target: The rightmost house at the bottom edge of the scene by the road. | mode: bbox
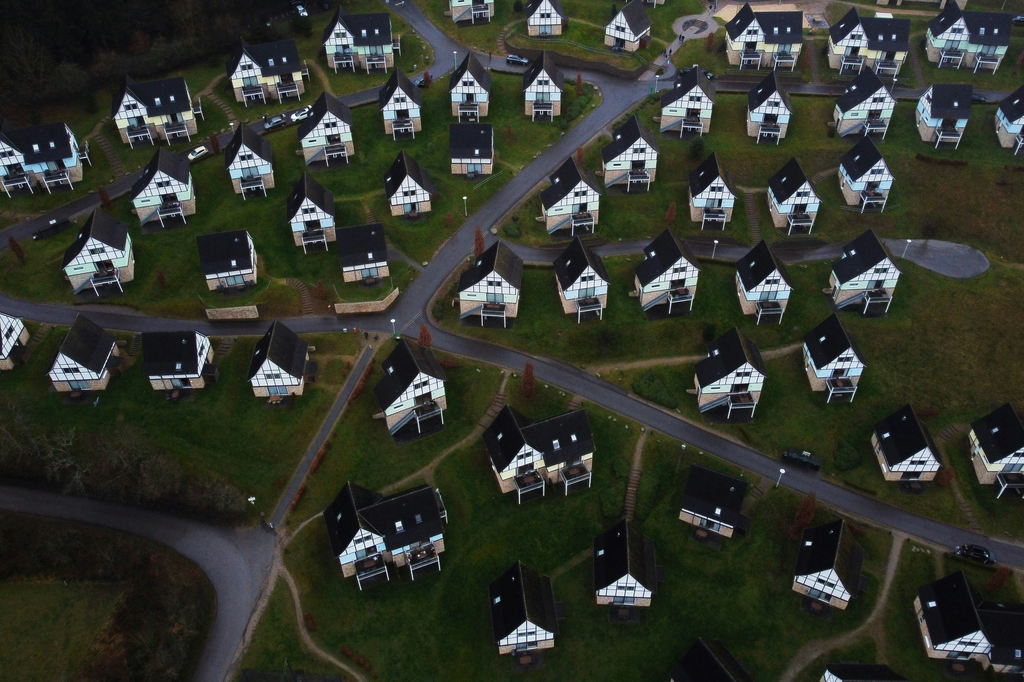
[915,573,1024,681]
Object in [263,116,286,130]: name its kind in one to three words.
car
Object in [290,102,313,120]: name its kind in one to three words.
car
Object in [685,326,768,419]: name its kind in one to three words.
house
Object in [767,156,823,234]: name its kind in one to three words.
house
